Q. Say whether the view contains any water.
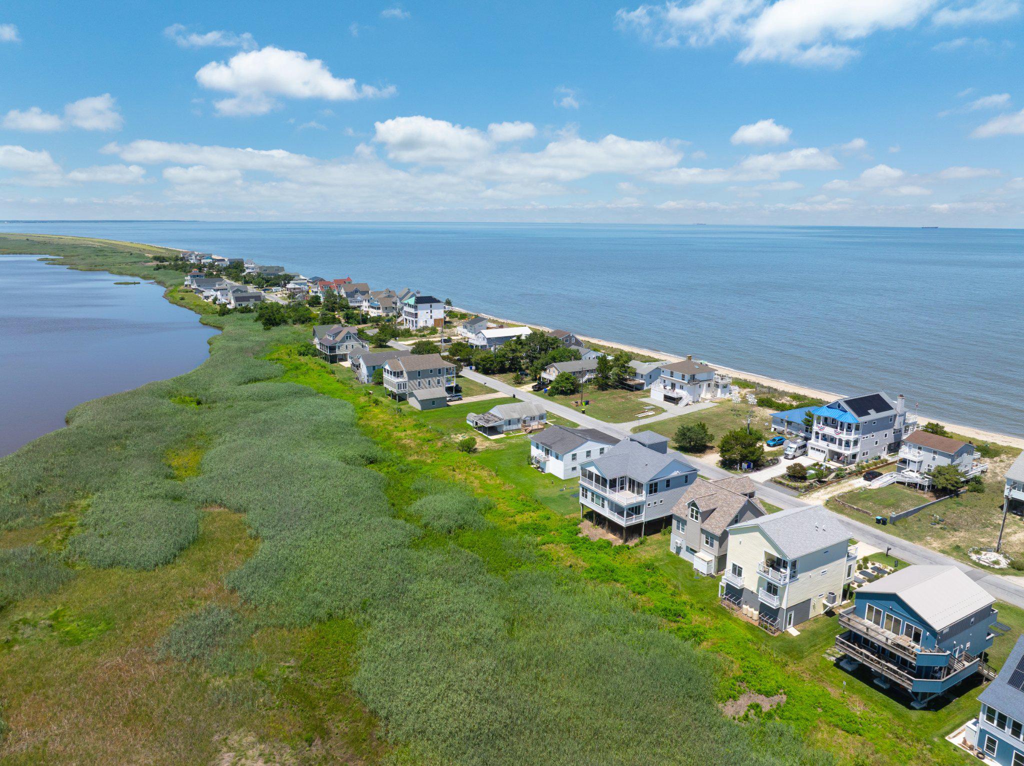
Yes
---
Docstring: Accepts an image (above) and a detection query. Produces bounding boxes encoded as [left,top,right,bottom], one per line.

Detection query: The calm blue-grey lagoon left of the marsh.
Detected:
[0,254,222,469]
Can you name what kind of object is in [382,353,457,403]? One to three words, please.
house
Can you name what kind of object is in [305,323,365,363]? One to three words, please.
house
